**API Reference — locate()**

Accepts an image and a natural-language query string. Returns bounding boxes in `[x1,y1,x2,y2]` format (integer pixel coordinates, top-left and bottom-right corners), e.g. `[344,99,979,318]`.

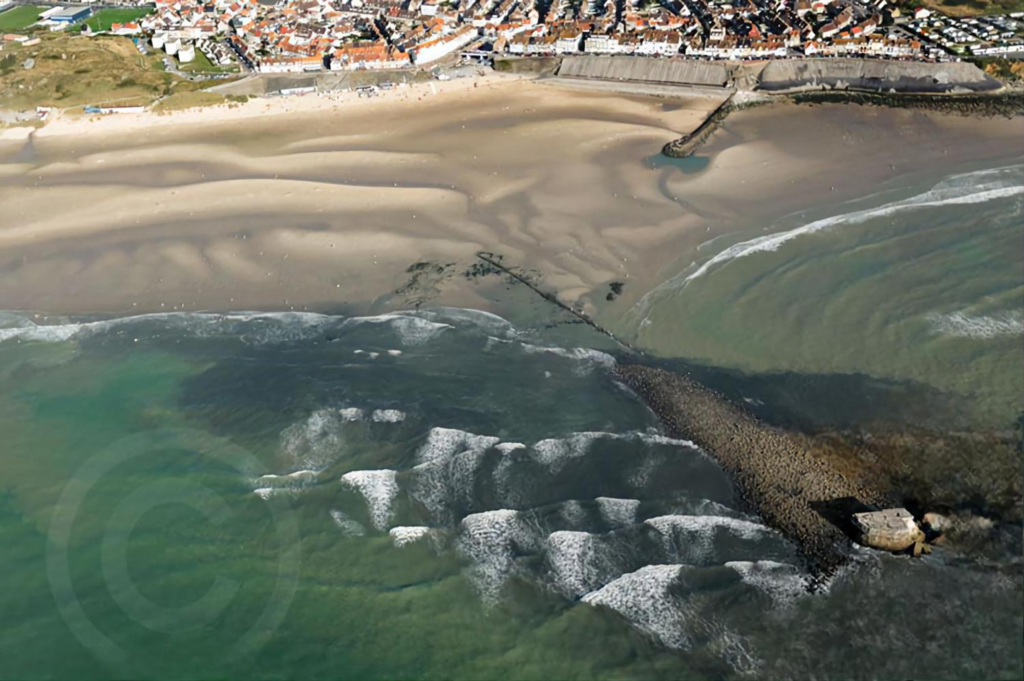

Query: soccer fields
[0,4,50,29]
[77,7,145,32]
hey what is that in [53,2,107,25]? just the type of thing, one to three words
building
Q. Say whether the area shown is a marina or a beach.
beach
